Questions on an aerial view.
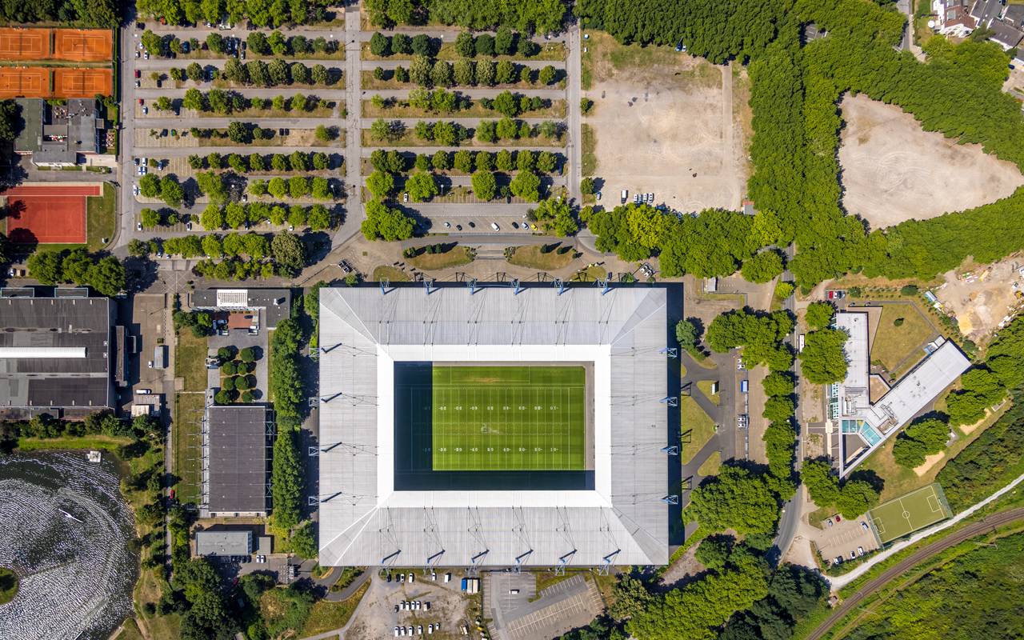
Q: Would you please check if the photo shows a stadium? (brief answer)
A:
Yes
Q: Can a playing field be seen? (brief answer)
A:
Yes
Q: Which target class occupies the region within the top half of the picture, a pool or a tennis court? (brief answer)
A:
tennis court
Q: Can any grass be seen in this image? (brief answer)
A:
Yes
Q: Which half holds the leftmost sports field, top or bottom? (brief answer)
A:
bottom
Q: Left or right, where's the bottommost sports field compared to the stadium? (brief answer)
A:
to the right of it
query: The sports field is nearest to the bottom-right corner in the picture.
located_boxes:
[867,482,958,548]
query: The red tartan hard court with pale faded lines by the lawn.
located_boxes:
[7,196,87,244]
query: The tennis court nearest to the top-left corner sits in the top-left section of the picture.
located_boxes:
[0,29,50,59]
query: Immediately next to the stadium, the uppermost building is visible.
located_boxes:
[191,289,292,329]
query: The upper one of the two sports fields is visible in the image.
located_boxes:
[394,362,595,491]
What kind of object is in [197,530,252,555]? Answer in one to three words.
building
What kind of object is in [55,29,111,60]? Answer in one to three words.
tennis court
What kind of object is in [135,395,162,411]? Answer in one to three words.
shed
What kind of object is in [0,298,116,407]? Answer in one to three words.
building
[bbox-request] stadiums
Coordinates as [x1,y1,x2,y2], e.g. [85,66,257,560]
[308,277,678,577]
